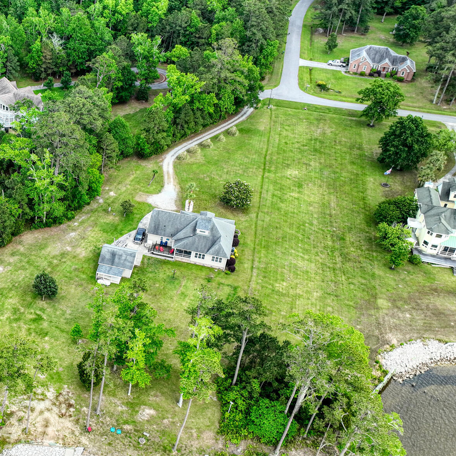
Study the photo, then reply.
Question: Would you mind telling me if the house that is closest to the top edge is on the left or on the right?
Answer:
right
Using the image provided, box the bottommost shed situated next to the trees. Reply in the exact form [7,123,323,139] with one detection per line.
[95,244,139,285]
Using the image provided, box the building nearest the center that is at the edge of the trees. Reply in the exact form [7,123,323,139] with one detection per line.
[147,207,236,271]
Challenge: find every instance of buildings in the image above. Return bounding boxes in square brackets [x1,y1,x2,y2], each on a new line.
[349,47,416,80]
[406,177,456,276]
[147,207,236,271]
[95,244,139,285]
[0,76,51,134]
